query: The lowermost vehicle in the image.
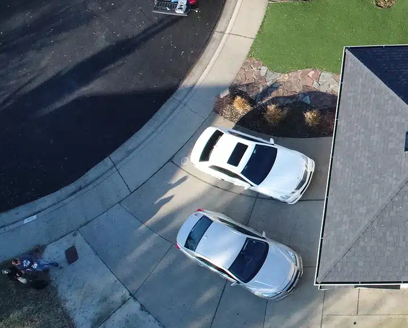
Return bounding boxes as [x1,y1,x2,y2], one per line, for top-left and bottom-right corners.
[170,212,304,301]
